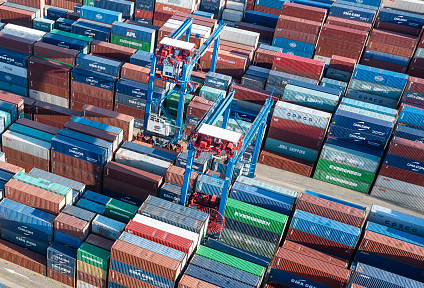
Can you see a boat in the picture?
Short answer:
No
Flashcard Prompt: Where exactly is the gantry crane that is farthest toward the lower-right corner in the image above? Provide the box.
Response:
[180,77,281,244]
